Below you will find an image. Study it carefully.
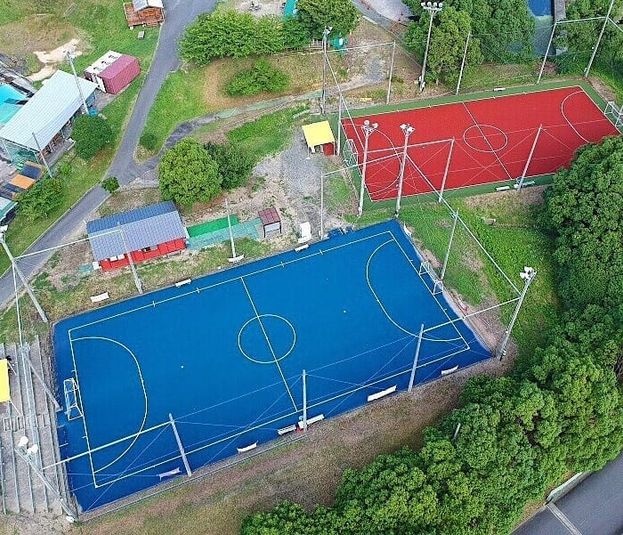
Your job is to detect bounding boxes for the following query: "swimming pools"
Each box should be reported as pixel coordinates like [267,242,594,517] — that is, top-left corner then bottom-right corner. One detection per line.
[0,93,25,125]
[526,0,553,20]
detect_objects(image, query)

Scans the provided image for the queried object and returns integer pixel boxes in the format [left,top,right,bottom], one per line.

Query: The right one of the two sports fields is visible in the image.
[321,77,623,215]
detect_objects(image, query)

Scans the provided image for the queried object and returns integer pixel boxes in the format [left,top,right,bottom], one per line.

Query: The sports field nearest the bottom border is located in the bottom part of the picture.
[50,219,495,516]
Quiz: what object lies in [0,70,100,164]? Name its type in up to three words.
building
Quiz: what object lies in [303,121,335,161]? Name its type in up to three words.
shed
